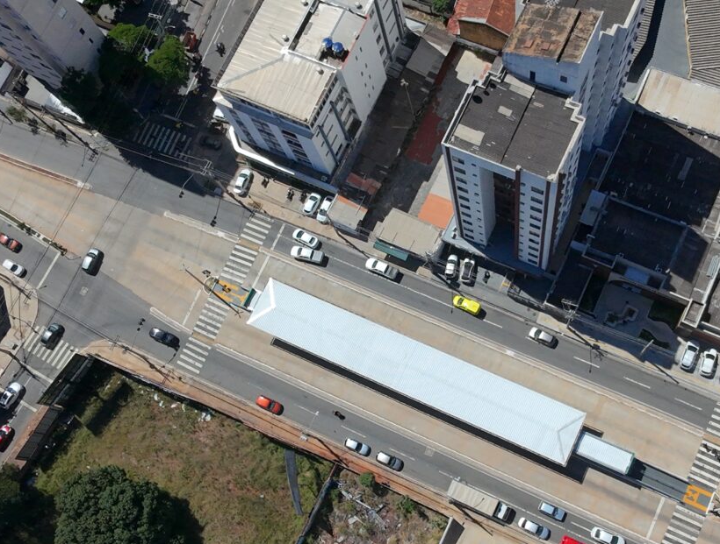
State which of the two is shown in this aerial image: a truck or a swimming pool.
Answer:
truck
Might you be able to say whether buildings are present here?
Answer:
Yes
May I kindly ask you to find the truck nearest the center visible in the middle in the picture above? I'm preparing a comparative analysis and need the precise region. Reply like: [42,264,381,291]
[365,258,399,281]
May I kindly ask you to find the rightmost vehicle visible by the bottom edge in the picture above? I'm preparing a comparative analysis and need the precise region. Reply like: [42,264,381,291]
[589,527,626,544]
